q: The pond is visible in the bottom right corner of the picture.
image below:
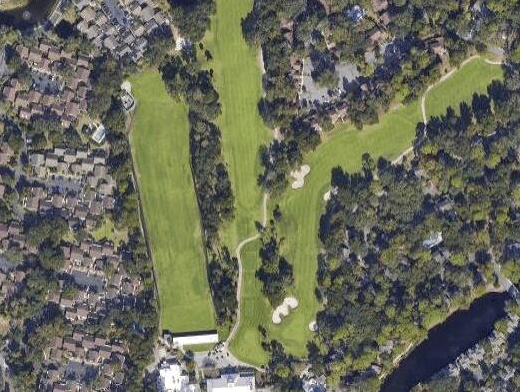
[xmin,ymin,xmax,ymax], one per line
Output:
[381,291,512,392]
